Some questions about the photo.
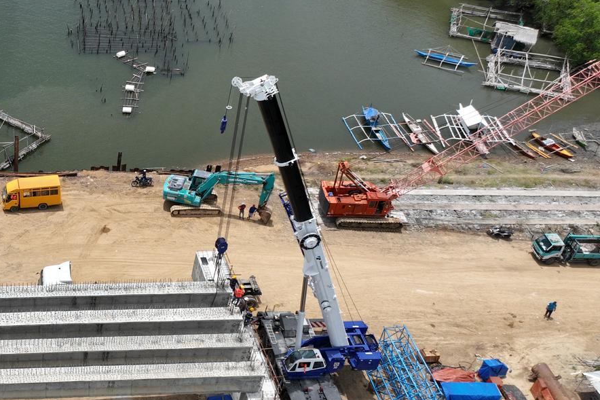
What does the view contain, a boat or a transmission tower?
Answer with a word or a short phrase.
boat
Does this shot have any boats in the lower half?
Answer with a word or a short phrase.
No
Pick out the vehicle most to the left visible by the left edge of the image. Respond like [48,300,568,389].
[1,173,66,213]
